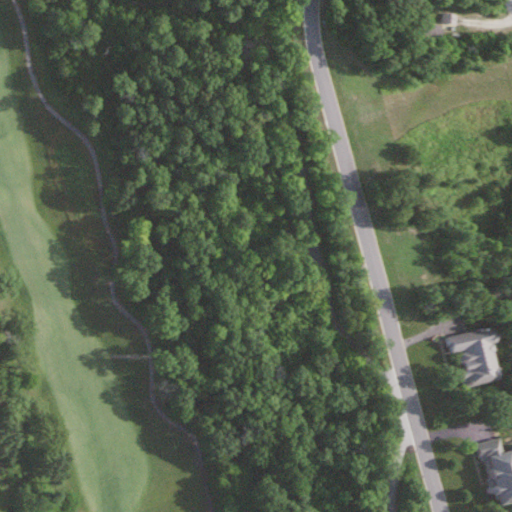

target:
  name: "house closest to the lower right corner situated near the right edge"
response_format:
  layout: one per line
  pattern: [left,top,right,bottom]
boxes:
[478,439,512,508]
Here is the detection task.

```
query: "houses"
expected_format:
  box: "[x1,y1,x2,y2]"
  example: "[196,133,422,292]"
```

[446,328,503,384]
[478,439,512,508]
